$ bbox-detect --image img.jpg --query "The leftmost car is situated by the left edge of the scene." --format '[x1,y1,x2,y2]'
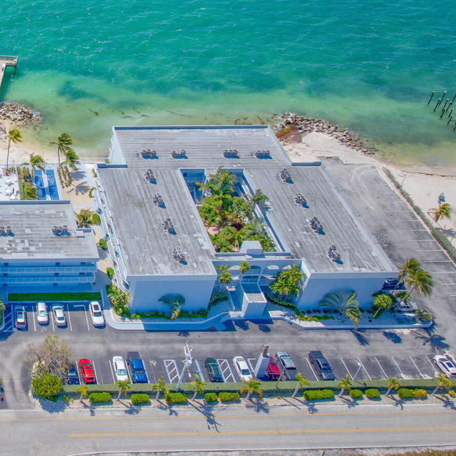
[13,306,28,329]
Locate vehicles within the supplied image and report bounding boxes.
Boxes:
[13,306,28,329]
[203,357,225,384]
[431,353,456,380]
[52,304,66,328]
[35,300,50,325]
[391,300,423,312]
[273,351,298,383]
[78,358,96,385]
[64,361,81,386]
[111,355,129,383]
[268,355,285,382]
[89,301,104,327]
[127,351,148,385]
[232,354,253,383]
